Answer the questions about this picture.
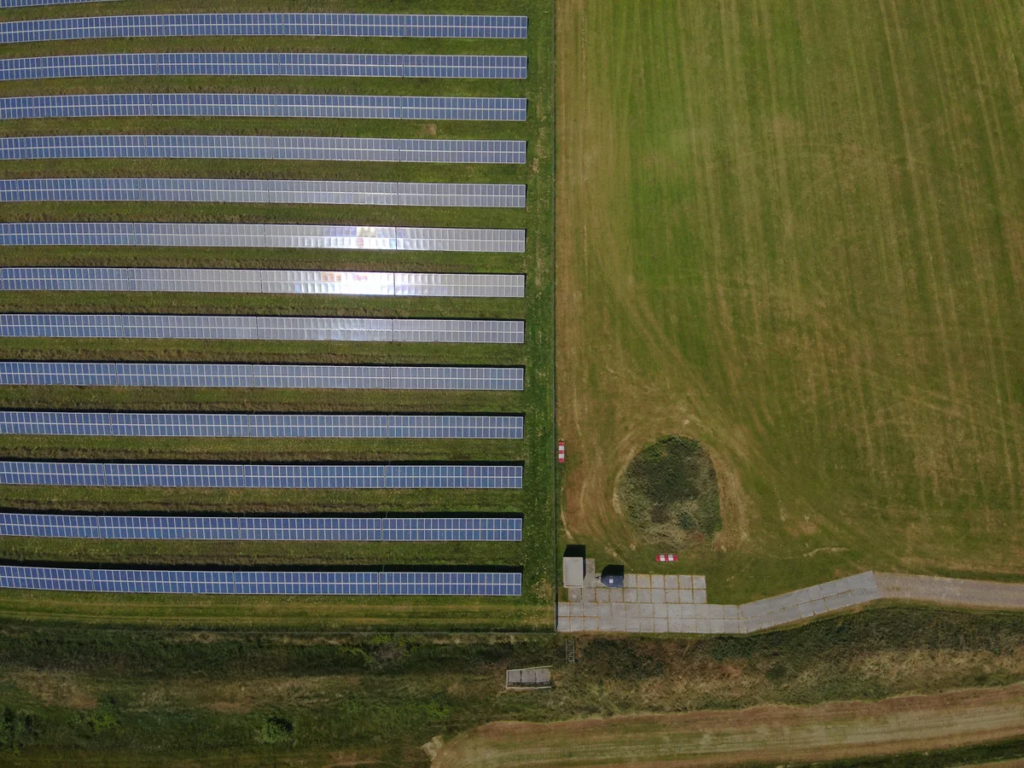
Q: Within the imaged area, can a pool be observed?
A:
No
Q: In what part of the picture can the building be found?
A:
bottom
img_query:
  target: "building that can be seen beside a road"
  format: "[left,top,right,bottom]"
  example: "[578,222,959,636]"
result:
[562,557,583,587]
